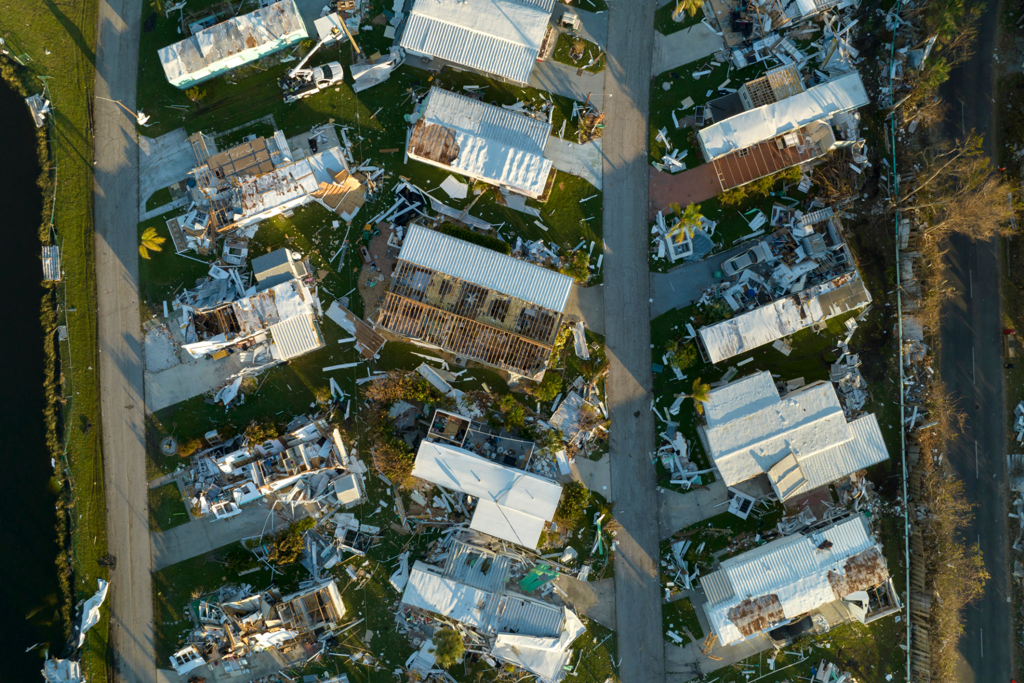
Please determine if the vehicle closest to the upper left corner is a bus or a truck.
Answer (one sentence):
I'd identify the vehicle closest to the upper left corner as a truck.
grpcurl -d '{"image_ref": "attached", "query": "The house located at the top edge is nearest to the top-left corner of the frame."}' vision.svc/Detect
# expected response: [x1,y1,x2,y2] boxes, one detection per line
[157,0,309,89]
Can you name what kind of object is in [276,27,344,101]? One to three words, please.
truck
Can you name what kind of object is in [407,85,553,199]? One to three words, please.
house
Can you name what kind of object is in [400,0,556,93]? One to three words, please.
house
